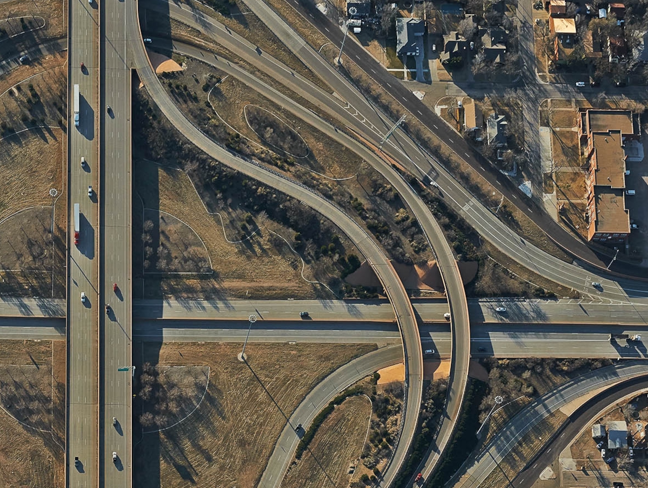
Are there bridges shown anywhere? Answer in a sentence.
Yes, there's a bridge down there.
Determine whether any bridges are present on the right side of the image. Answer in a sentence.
Yes, a bridge can be seen on the right side of the image.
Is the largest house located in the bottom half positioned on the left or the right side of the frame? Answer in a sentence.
The largest house located in the bottom half appears in the right half of the scene.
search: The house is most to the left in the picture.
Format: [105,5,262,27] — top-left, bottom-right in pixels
[346,0,371,20]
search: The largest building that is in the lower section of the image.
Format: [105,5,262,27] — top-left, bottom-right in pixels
[606,421,630,454]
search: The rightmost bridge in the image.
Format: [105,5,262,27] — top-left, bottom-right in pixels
[439,261,471,386]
